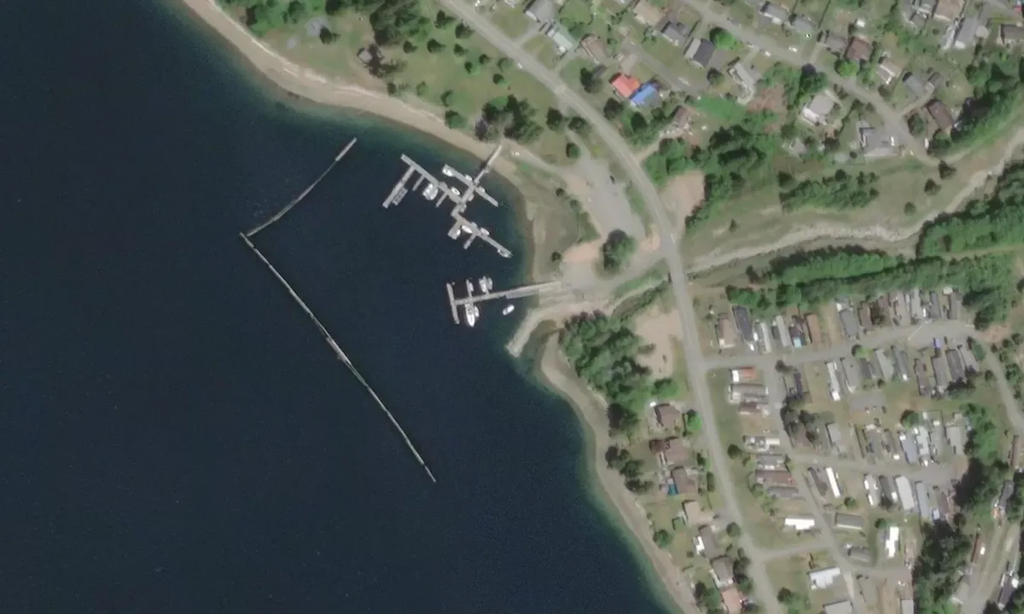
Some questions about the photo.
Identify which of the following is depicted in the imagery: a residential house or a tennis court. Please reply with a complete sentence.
There is a residential house in the scene.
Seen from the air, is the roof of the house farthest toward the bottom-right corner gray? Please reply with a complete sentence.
Yes, the roof of the house farthest toward the bottom-right corner is indeed gray.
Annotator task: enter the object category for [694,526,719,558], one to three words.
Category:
house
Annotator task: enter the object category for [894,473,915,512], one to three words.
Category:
house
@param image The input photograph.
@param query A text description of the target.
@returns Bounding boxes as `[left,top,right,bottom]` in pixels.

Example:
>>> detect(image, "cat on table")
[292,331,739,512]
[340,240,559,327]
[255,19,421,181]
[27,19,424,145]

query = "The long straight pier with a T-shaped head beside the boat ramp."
[446,277,561,324]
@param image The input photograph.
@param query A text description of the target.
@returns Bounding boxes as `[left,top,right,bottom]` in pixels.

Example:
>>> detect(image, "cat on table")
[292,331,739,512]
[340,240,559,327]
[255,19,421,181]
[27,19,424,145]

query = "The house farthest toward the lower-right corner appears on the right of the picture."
[996,572,1019,609]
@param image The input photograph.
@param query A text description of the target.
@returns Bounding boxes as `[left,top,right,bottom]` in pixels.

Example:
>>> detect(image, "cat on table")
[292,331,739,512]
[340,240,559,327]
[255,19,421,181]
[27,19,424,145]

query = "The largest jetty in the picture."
[383,144,512,256]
